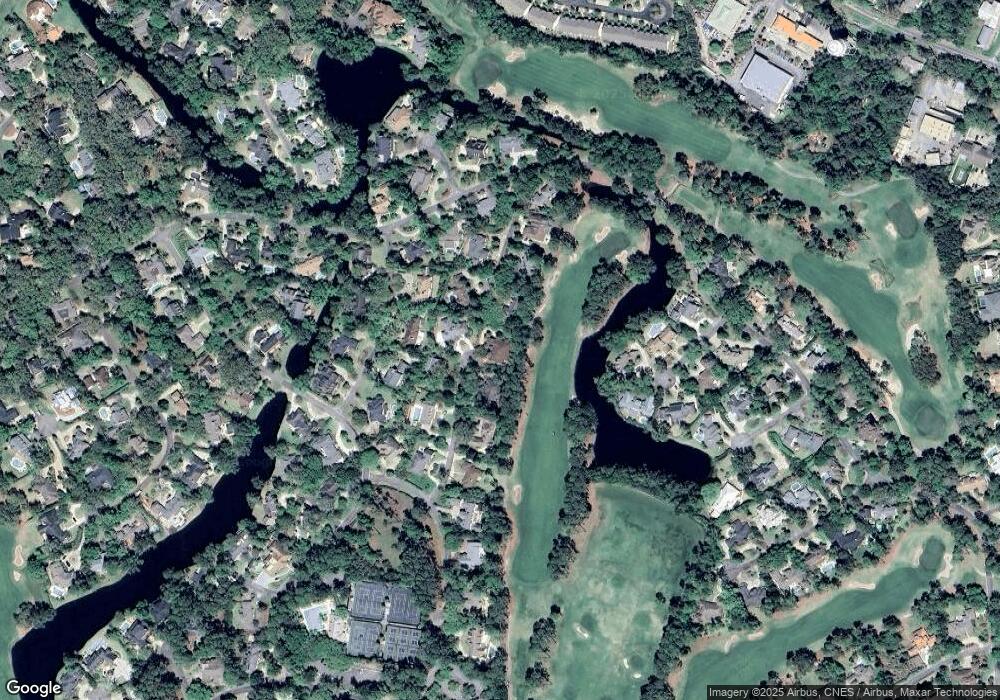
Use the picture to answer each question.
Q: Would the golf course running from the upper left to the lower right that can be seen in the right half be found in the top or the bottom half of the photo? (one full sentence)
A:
It is in the top half that the golf course running from the upper left to the lower right that can be seen in the right half appears.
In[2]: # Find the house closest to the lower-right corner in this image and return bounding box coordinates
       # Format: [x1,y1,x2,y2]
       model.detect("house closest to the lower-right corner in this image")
[948,669,977,685]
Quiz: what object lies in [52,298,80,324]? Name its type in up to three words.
house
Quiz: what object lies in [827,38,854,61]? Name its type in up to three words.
water tower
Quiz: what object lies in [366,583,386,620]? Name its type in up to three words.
tennis court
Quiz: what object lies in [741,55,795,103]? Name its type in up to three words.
building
